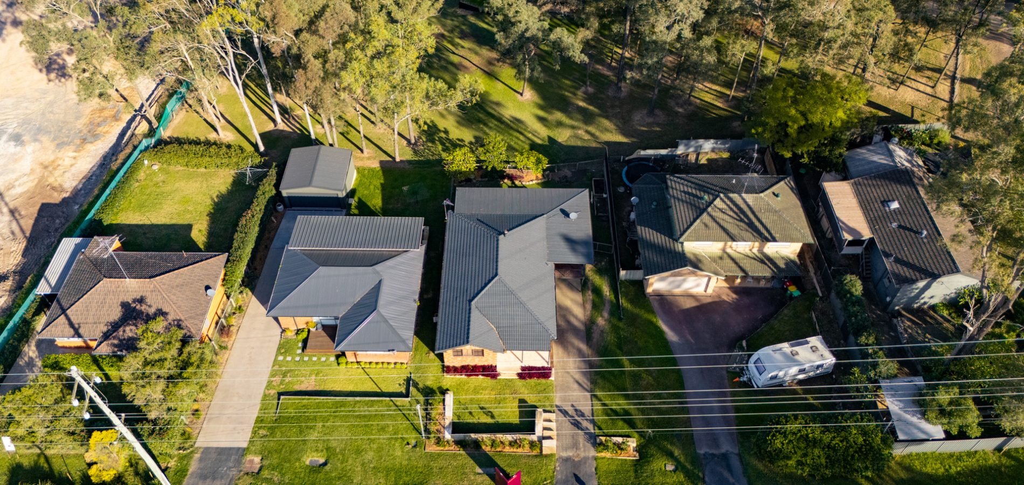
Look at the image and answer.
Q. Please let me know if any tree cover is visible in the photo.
Yes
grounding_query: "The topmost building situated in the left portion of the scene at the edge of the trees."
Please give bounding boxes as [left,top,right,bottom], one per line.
[280,144,355,210]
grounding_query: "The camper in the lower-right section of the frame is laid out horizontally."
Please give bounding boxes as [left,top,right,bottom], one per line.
[731,336,835,391]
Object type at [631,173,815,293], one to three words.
house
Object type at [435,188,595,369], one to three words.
house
